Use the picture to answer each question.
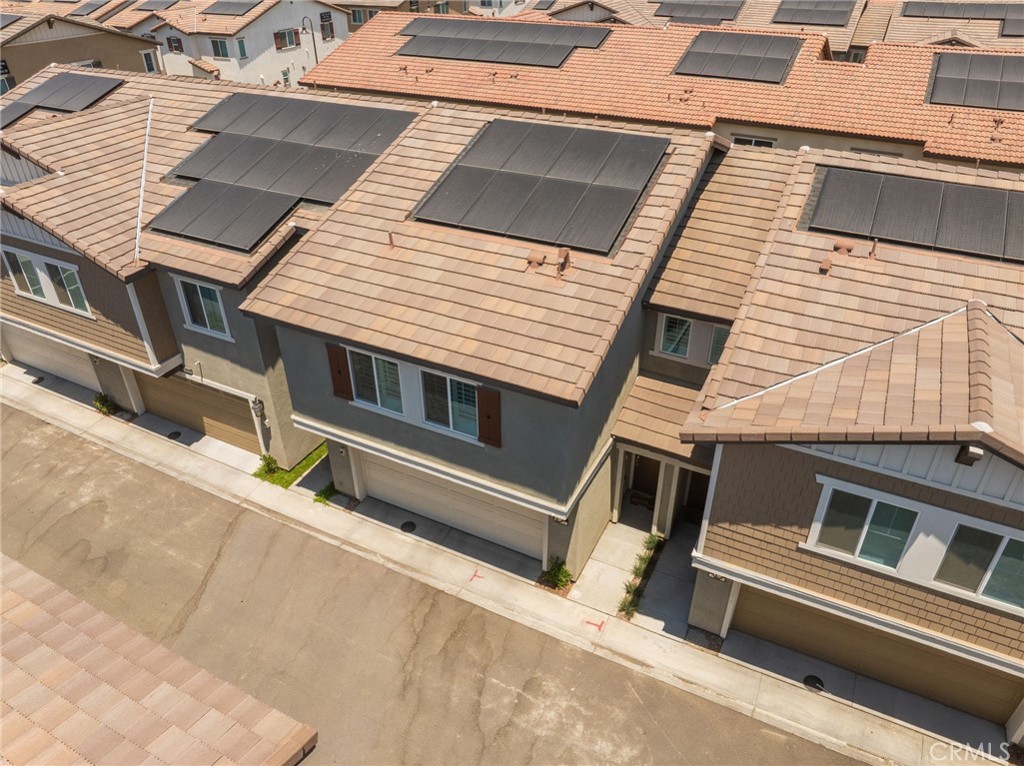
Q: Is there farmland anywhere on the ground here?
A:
No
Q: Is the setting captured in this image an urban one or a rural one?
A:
urban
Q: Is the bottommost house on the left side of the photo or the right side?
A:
left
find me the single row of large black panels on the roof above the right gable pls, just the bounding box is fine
[807,169,1024,266]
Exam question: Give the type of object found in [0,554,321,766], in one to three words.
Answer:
house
